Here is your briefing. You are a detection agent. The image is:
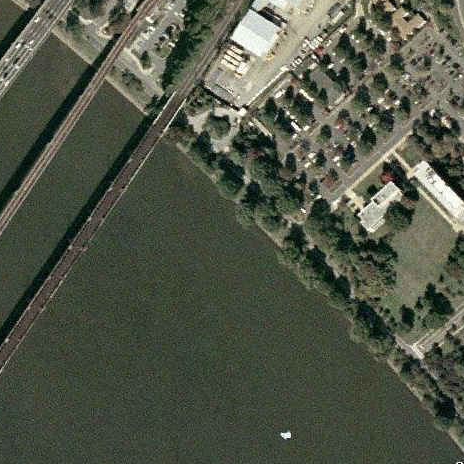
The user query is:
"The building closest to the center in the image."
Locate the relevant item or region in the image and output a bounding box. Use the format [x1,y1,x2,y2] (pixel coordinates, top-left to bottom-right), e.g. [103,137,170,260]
[355,202,385,233]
